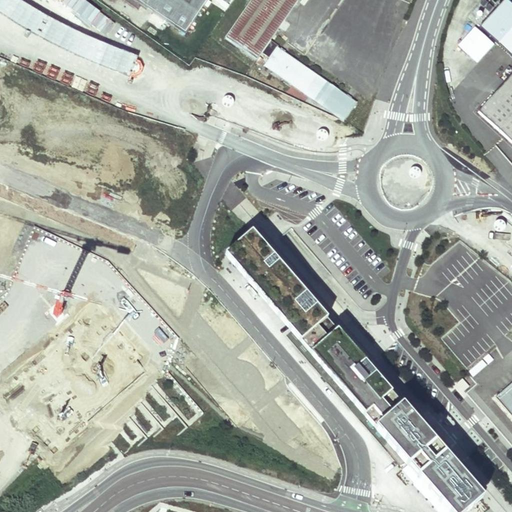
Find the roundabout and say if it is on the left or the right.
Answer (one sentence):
It is on the right.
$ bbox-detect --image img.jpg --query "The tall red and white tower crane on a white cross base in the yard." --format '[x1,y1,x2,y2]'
[0,276,106,324]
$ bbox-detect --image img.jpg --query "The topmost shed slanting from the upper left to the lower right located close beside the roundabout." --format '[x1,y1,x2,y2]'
[264,46,358,124]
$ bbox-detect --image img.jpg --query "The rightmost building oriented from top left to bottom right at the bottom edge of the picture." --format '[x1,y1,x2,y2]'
[378,399,486,512]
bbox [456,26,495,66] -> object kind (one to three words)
building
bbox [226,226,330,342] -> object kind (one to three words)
building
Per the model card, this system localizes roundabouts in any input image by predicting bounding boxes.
[356,136,454,230]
